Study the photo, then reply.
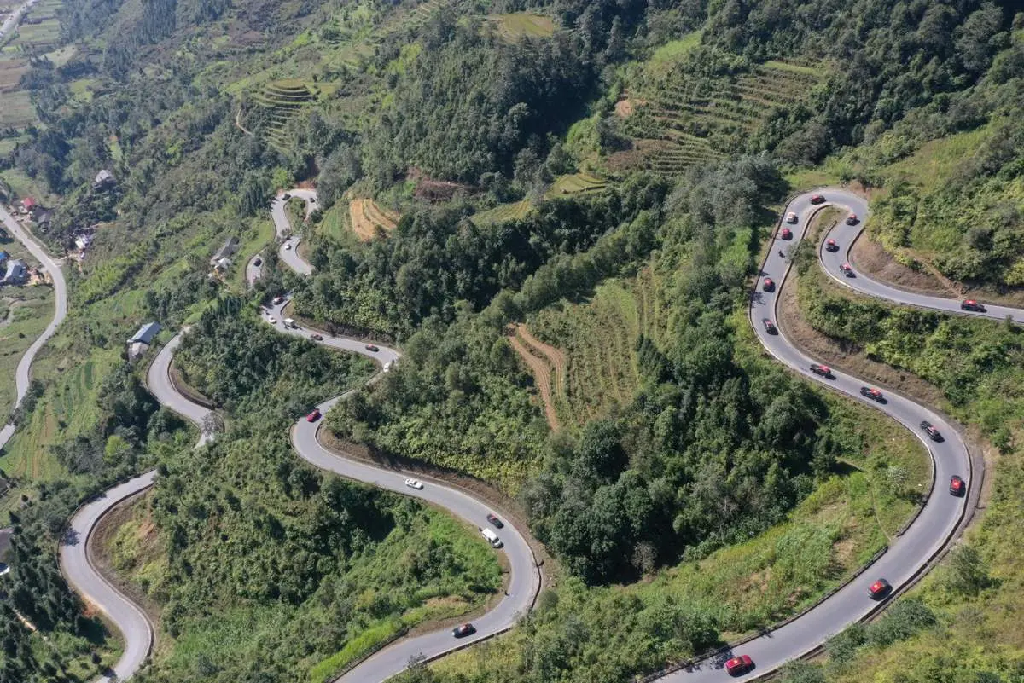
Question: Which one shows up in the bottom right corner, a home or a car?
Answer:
car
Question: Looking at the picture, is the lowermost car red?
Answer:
Yes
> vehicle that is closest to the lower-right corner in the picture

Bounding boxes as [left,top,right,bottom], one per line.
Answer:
[861,579,891,602]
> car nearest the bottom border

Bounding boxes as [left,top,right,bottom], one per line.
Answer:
[720,656,750,678]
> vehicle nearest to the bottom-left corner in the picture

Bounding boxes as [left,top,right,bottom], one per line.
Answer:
[306,408,321,422]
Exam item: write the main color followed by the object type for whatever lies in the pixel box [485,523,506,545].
white vehicle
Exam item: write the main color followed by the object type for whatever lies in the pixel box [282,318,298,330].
white vehicle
